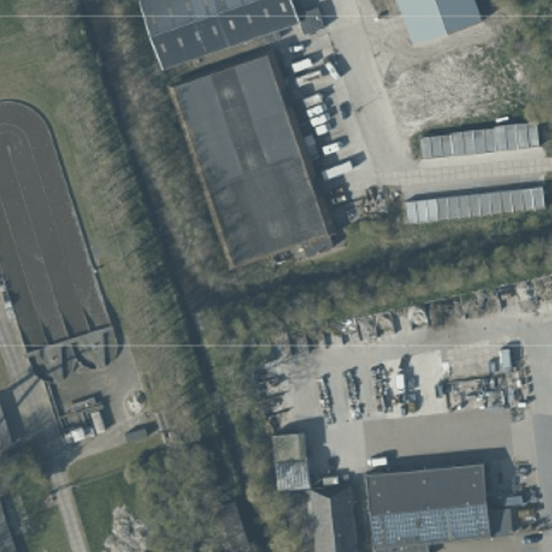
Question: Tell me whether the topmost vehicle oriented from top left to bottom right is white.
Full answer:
Yes, white is the color of the topmost vehicle oriented from top left to bottom right.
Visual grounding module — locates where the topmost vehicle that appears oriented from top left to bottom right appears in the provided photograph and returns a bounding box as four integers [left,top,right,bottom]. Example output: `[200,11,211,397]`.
[322,60,341,82]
